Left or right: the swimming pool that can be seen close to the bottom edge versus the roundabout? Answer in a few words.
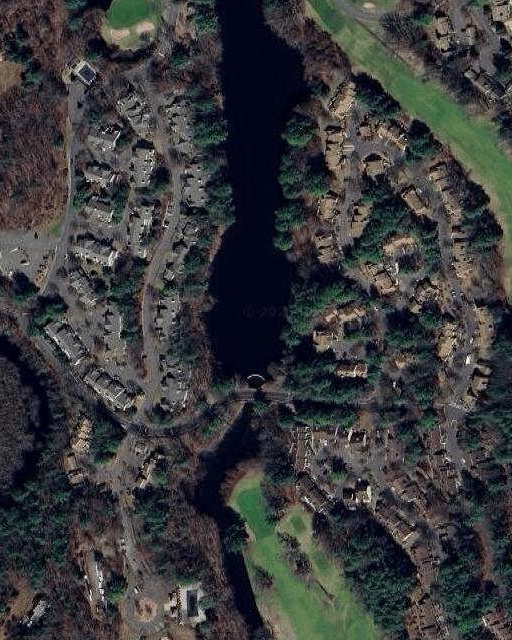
right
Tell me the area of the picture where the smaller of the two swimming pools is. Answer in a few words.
top left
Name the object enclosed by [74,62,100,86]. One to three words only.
swimming pool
